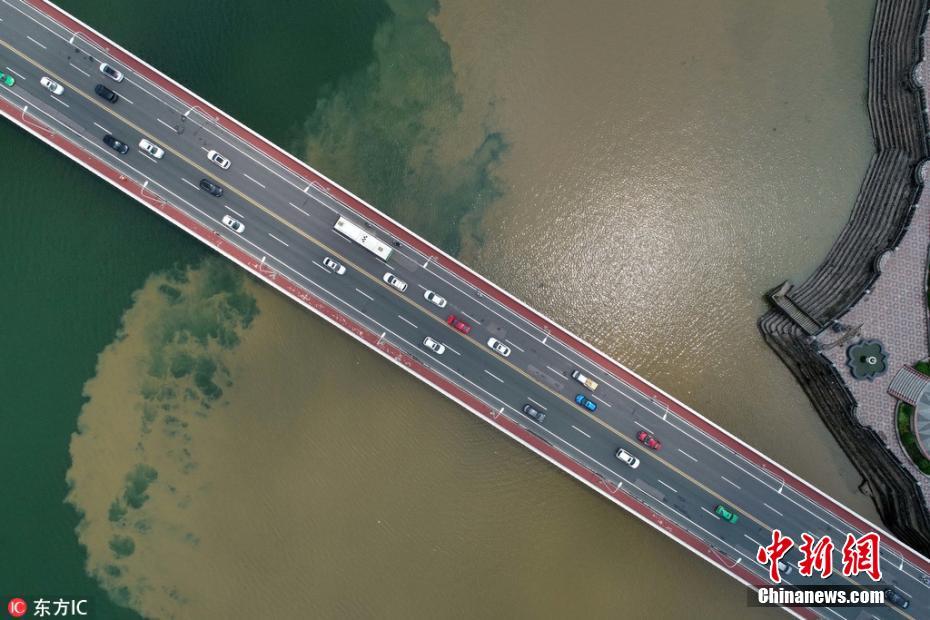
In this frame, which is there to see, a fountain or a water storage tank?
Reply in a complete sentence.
The image shows a fountain.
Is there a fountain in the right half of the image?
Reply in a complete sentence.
Yes, looking in the right half of the image, one can make out a fountain.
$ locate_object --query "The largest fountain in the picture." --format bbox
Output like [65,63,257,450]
[848,340,889,379]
